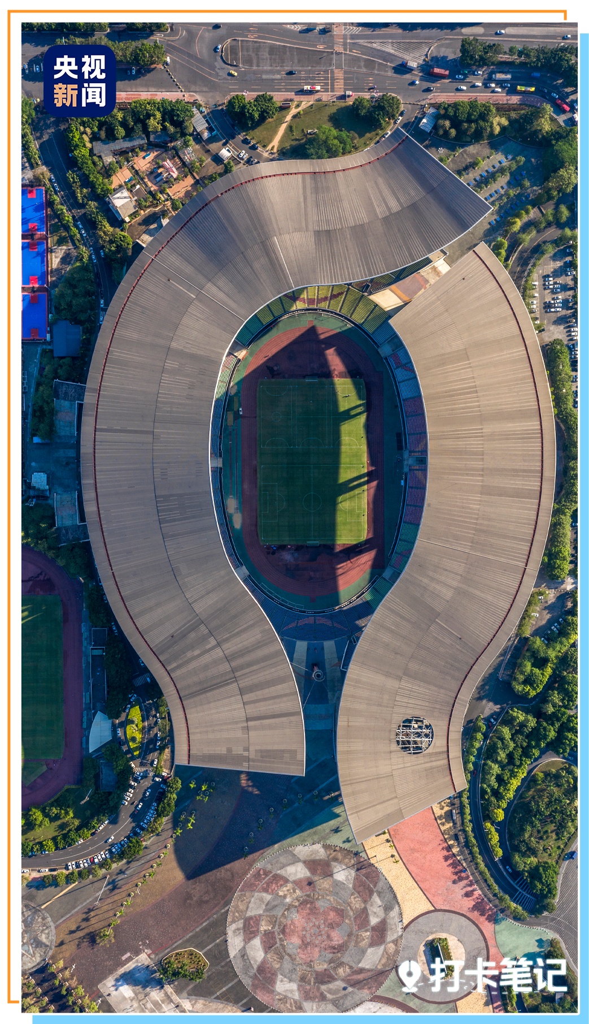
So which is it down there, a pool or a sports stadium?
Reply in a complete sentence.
The image shows a sports stadium.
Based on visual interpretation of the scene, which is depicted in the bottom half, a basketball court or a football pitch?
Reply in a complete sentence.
What appears in the bottom half is a football pitch.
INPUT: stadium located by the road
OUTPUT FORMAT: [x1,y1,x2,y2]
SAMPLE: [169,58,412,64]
[80,127,556,844]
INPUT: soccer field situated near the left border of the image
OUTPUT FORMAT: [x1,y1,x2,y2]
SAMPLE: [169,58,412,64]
[0,595,64,759]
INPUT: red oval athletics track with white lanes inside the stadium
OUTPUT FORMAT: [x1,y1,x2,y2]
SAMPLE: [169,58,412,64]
[226,320,384,602]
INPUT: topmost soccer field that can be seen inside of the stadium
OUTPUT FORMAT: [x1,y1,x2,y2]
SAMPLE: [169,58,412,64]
[257,380,366,545]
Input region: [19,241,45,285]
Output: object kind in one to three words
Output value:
basketball court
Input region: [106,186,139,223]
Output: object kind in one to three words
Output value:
house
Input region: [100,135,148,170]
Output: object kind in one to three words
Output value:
shed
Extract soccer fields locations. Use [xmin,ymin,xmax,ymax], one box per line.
[257,380,366,545]
[0,595,64,759]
